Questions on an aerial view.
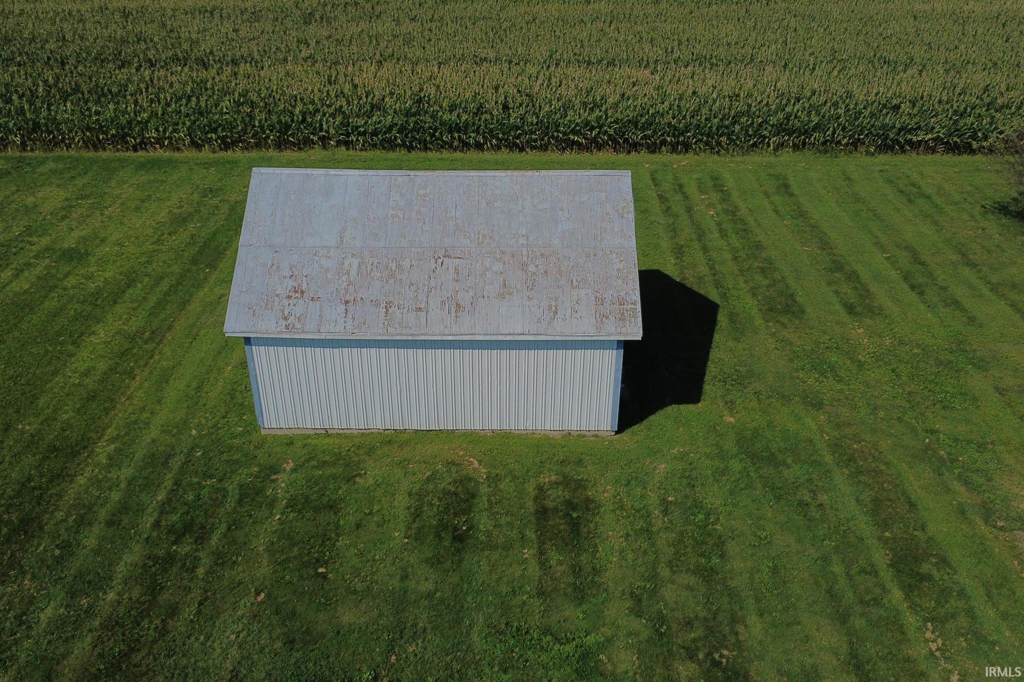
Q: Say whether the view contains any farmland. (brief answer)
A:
Yes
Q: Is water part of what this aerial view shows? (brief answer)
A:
No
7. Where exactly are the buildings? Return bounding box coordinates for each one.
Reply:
[224,165,643,437]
